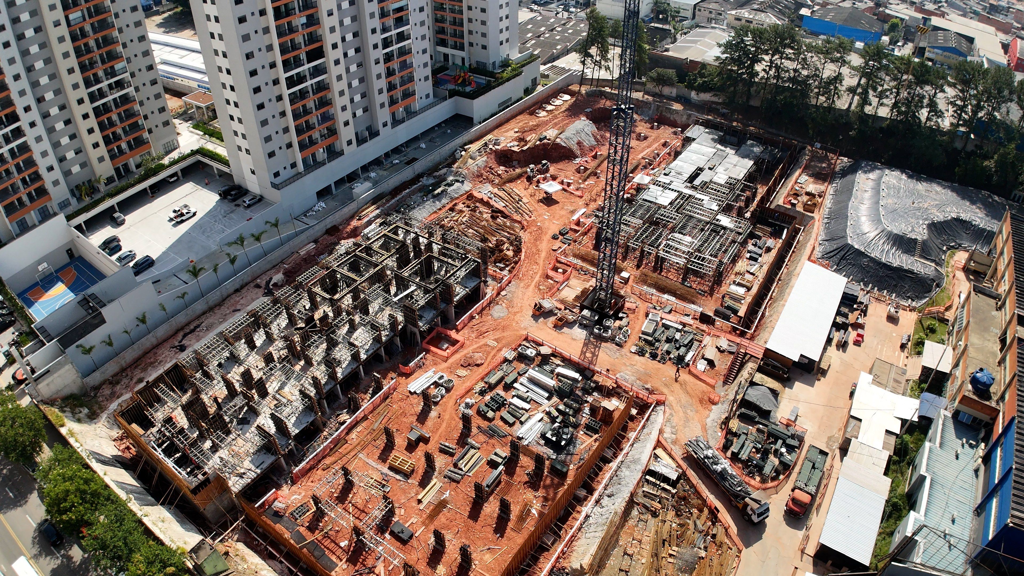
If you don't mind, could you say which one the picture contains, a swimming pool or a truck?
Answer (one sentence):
It is a truck that can be seen here.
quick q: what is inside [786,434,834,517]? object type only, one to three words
truck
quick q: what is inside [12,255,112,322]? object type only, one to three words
sports court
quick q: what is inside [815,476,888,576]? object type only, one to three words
shed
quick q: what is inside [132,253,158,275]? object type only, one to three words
car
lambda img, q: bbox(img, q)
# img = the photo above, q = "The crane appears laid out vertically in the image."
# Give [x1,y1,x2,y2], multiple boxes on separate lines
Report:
[580,0,645,327]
